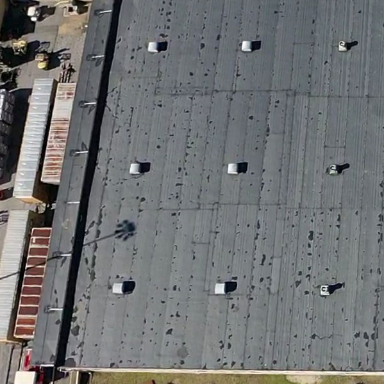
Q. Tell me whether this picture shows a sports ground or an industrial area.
industrial area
